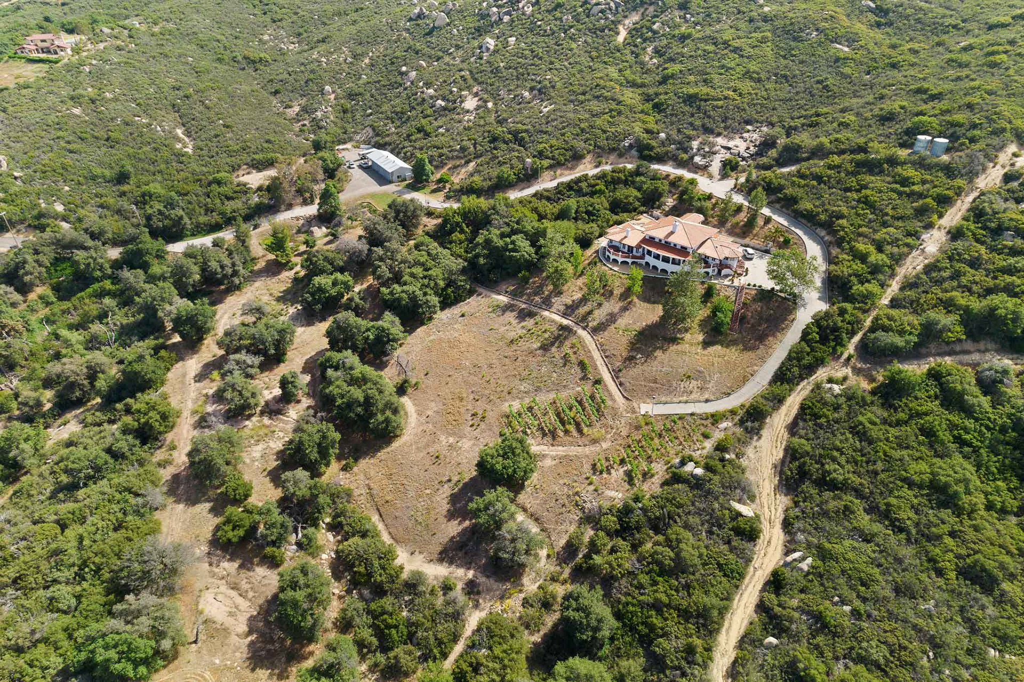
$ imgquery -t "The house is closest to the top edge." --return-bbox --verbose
[8,32,74,58]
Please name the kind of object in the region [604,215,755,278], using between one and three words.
house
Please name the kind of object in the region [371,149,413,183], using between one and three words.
shed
